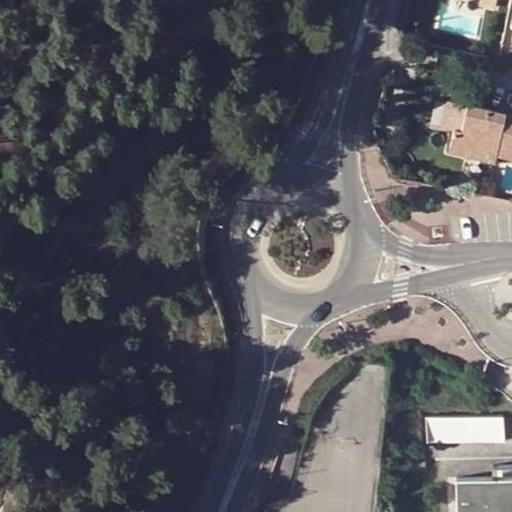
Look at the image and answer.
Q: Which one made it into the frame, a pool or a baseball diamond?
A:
pool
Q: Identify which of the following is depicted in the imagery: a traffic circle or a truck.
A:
traffic circle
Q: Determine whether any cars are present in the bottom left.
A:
No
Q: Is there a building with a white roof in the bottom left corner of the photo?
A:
No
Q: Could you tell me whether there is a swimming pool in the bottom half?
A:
No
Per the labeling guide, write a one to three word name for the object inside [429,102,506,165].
house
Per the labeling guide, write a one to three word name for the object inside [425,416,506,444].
building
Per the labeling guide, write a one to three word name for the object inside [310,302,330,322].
car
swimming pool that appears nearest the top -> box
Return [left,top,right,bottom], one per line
[438,13,484,40]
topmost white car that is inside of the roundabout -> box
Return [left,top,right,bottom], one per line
[246,218,264,238]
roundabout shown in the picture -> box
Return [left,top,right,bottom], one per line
[231,179,373,321]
